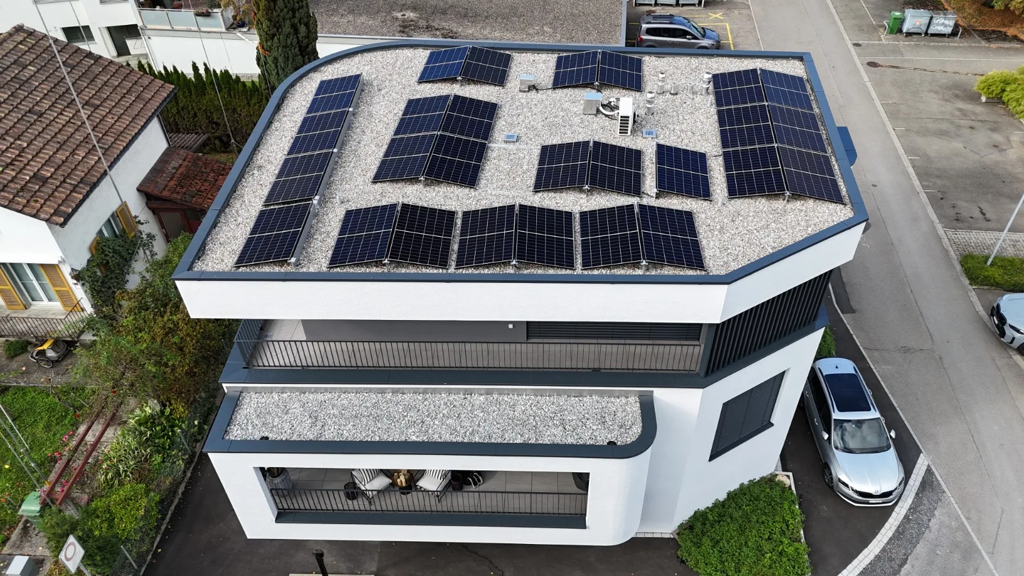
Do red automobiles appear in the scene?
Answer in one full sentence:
No, there is no red automobile in the image.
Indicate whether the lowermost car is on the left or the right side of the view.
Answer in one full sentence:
The lowermost car appears in the right half of the scene.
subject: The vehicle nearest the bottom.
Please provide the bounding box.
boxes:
[800,358,902,506]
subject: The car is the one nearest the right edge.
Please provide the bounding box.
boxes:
[985,292,1024,351]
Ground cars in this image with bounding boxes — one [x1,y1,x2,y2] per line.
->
[634,13,720,51]
[985,292,1024,351]
[800,358,902,506]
